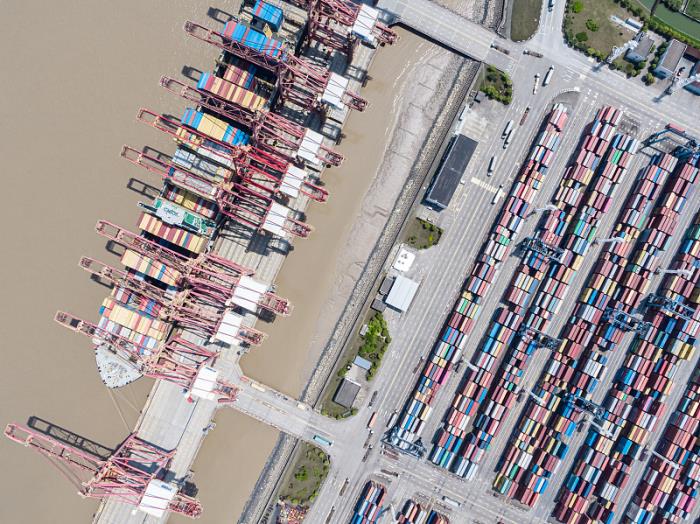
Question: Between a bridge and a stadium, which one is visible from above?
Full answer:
This aerial view contains a bridge.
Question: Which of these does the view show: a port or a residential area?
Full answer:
It's a port.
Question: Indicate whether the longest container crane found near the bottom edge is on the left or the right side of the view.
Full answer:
The longest container crane found near the bottom edge sits on the left side.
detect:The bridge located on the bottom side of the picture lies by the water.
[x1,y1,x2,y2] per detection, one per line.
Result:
[216,378,318,441]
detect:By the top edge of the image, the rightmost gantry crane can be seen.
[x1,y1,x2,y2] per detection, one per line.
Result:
[282,0,404,65]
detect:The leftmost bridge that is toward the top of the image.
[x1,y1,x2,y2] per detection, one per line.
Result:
[362,0,511,70]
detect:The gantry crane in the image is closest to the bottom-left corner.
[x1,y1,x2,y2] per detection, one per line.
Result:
[5,418,197,518]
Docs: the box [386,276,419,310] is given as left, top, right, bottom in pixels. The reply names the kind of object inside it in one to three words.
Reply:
shed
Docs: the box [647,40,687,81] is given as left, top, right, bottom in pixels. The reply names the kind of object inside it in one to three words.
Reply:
building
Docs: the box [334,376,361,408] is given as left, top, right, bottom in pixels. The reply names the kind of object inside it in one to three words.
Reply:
building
